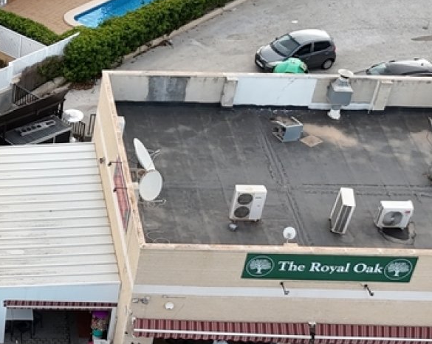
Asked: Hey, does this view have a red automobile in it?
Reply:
No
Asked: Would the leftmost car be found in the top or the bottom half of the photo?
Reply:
top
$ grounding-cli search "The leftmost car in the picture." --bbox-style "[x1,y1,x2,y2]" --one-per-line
[259,21,348,70]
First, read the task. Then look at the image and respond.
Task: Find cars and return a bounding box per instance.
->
[360,55,432,76]
[259,21,348,70]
